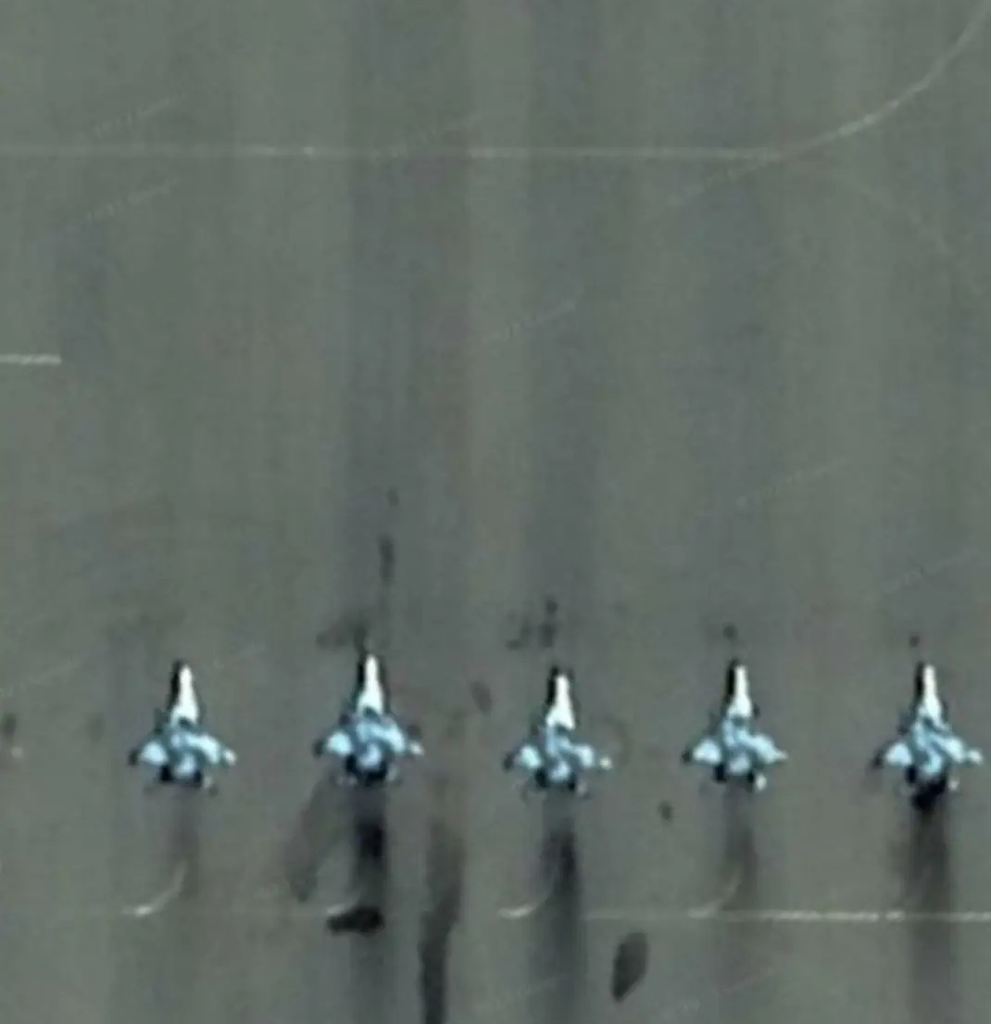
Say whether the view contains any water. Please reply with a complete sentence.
No, no water is visible.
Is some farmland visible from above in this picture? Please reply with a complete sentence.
No, no farmland is visible.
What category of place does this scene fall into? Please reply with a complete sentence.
This image shows an airport.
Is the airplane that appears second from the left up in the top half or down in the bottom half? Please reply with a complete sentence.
It is in the bottom half that the airplane that appears second from the left appears.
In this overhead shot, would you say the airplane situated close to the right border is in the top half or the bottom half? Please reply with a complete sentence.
It is in the bottom half that the airplane situated close to the right border appears.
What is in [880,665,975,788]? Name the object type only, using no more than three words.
airplane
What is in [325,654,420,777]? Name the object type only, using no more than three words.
airplane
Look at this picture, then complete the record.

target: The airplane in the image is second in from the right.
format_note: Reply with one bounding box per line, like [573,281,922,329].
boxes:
[693,665,789,788]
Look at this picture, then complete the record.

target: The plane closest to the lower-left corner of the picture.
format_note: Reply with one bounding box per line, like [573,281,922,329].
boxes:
[138,665,234,787]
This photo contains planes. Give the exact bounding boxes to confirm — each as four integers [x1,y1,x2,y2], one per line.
[138,665,234,787]
[880,665,975,788]
[693,665,789,788]
[325,654,420,777]
[514,673,609,796]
